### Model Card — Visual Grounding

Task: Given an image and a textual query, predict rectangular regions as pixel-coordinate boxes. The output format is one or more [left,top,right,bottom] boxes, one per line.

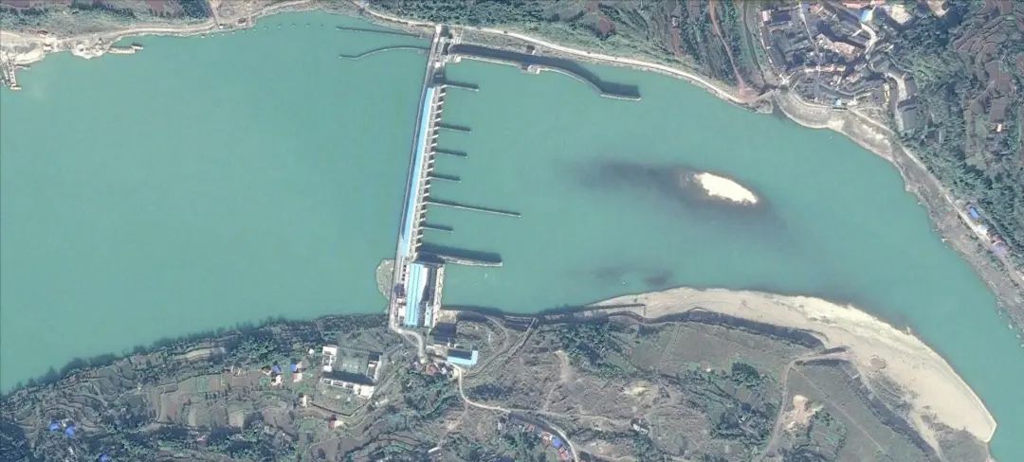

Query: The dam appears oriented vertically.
[389,16,521,327]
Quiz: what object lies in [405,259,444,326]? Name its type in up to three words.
building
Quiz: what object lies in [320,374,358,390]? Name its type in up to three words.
building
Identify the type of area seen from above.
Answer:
port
